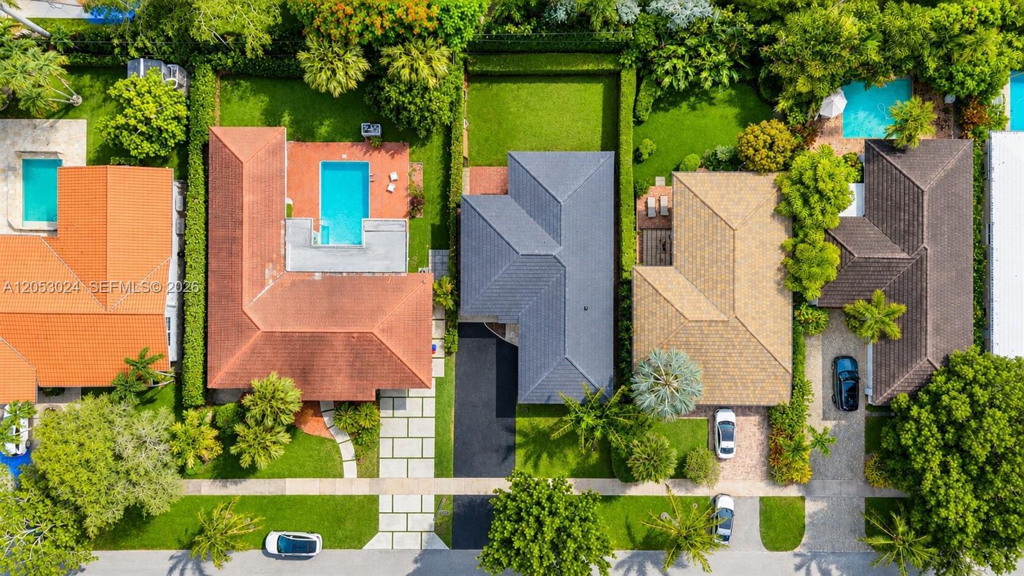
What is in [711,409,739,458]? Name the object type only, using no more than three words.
car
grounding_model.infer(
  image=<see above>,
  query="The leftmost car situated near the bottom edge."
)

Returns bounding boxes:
[268,529,321,559]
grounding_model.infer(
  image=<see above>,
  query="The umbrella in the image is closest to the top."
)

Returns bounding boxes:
[818,91,844,117]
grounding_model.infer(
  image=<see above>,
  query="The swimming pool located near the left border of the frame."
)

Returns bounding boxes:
[12,151,68,230]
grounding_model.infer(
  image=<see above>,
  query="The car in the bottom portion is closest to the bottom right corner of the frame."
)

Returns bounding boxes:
[830,356,862,411]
